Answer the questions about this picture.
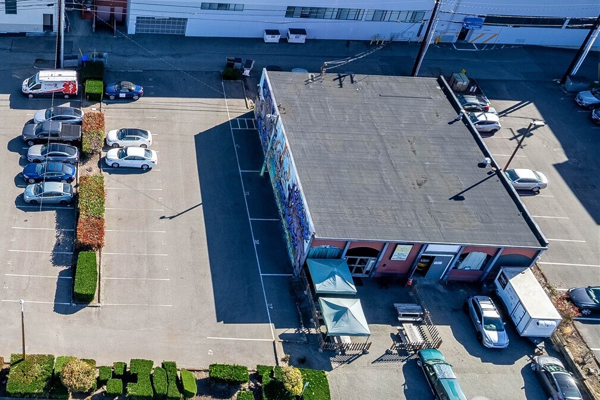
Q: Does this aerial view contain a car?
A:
Yes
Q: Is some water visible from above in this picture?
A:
No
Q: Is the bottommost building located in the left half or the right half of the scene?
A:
right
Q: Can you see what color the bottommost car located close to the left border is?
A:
blue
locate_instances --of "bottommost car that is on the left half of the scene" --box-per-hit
[24,183,74,208]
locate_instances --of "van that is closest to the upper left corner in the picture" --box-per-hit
[22,69,78,99]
